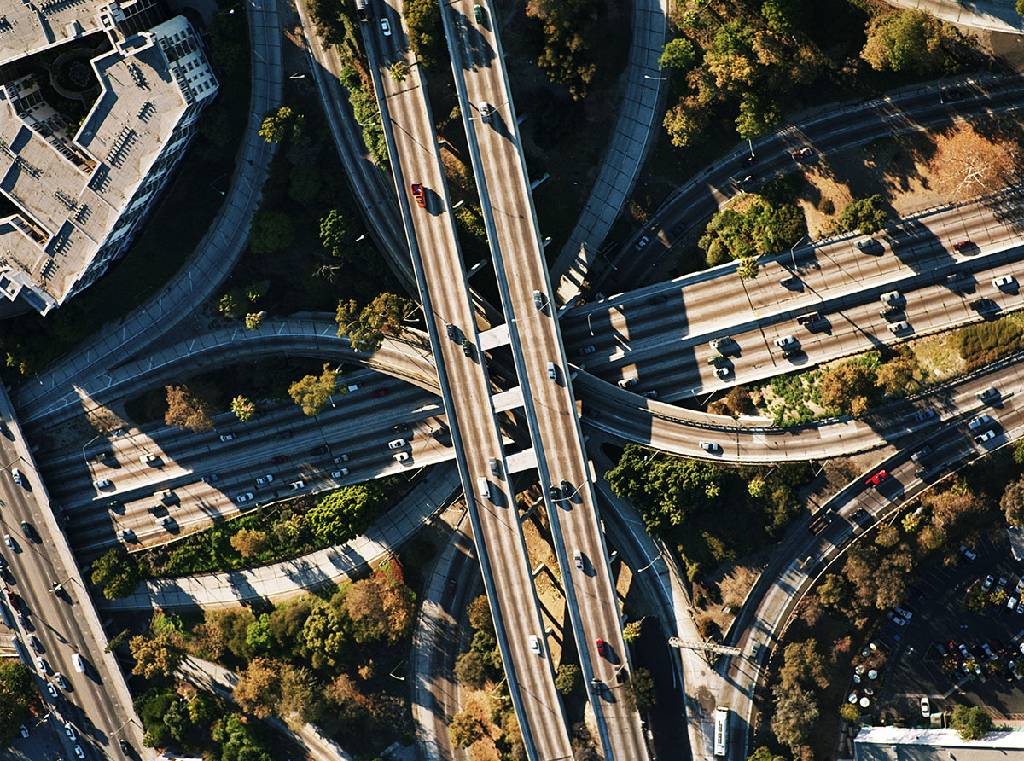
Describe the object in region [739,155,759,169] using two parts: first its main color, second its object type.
black car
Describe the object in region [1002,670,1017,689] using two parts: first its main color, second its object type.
black car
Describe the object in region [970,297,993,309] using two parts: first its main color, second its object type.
black vehicle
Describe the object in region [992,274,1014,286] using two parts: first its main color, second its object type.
white vehicle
